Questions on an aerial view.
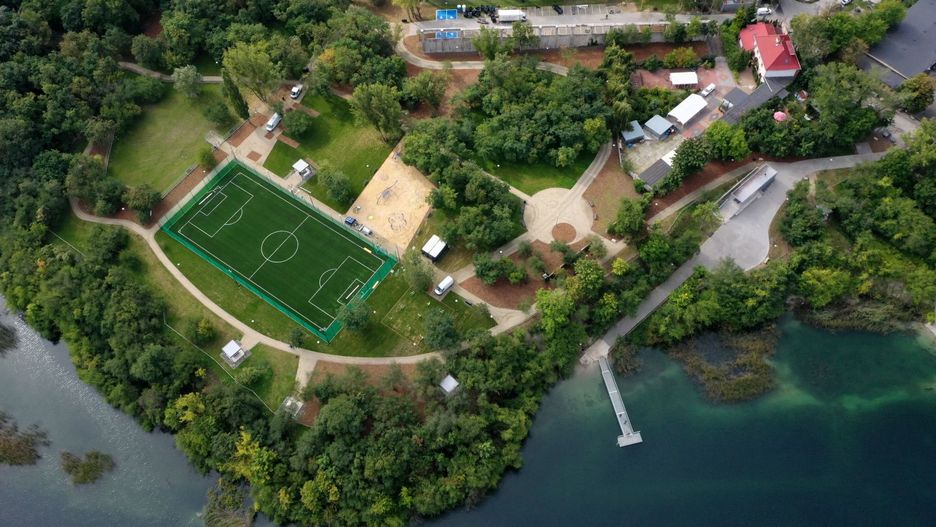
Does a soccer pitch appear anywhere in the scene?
Yes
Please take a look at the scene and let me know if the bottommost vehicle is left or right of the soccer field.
on the right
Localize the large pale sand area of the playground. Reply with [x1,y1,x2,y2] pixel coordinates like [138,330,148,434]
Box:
[346,140,436,252]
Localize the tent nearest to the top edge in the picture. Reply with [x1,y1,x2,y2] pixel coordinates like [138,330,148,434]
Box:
[668,72,697,90]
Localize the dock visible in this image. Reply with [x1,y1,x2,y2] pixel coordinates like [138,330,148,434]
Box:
[599,356,644,448]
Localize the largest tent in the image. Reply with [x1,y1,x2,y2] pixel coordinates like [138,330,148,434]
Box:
[667,94,707,130]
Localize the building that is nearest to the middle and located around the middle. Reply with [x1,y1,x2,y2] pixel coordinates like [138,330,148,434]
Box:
[420,229,448,257]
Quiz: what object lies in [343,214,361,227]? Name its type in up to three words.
vehicle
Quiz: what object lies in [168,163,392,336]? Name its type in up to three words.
soccer field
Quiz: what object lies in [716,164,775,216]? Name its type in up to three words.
building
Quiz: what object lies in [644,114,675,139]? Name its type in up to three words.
shed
